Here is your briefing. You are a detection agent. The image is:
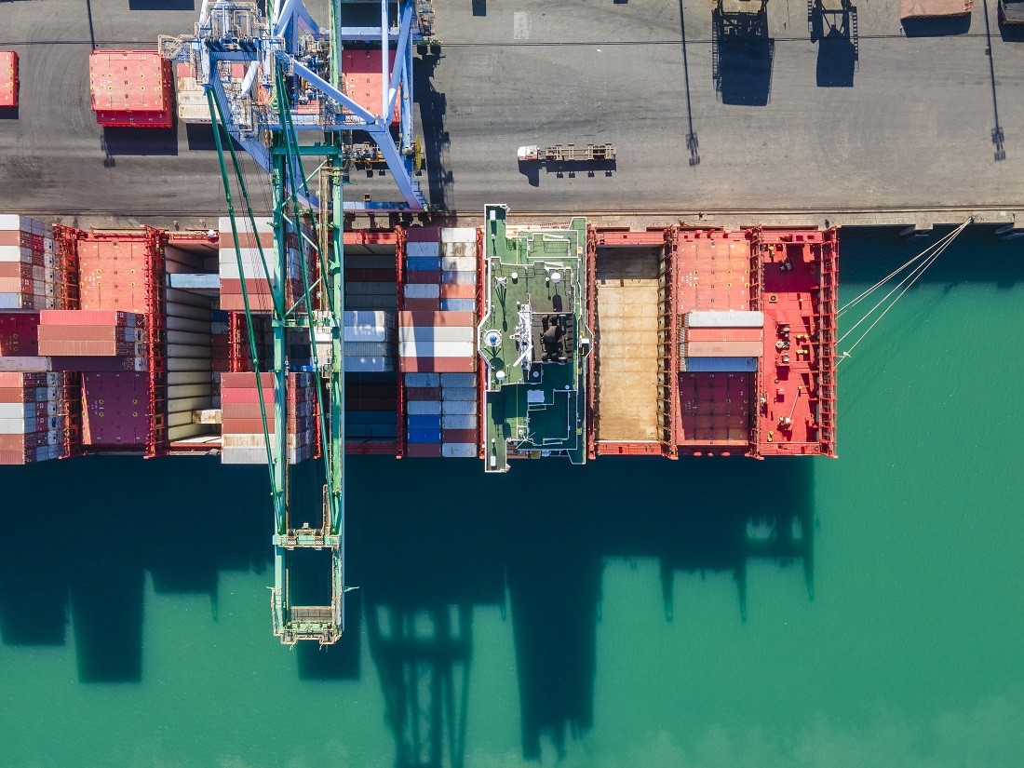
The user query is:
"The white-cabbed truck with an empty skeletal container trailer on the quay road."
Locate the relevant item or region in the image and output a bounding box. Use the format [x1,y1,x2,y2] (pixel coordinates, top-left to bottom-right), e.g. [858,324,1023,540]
[517,141,616,159]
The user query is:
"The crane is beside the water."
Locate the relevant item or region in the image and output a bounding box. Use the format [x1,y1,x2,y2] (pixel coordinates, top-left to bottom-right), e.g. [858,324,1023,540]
[156,0,448,648]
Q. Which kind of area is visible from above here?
port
